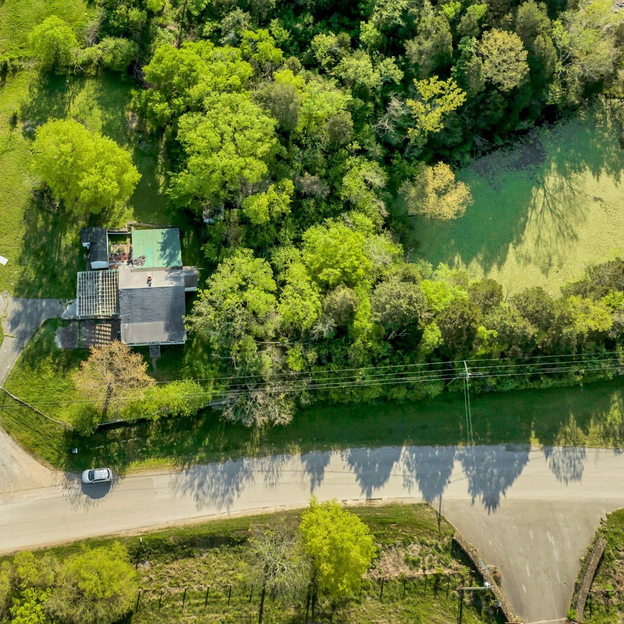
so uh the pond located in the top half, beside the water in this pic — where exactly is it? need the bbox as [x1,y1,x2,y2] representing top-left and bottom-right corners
[396,99,624,302]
